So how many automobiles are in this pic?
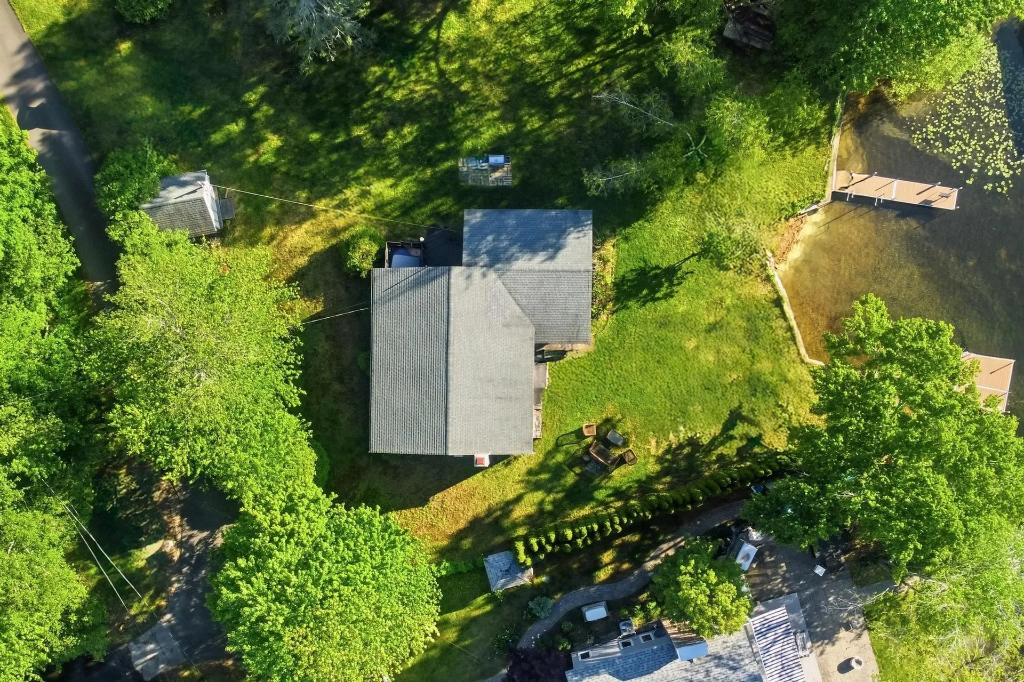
zero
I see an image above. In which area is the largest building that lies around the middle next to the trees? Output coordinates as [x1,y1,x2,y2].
[370,208,595,471]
